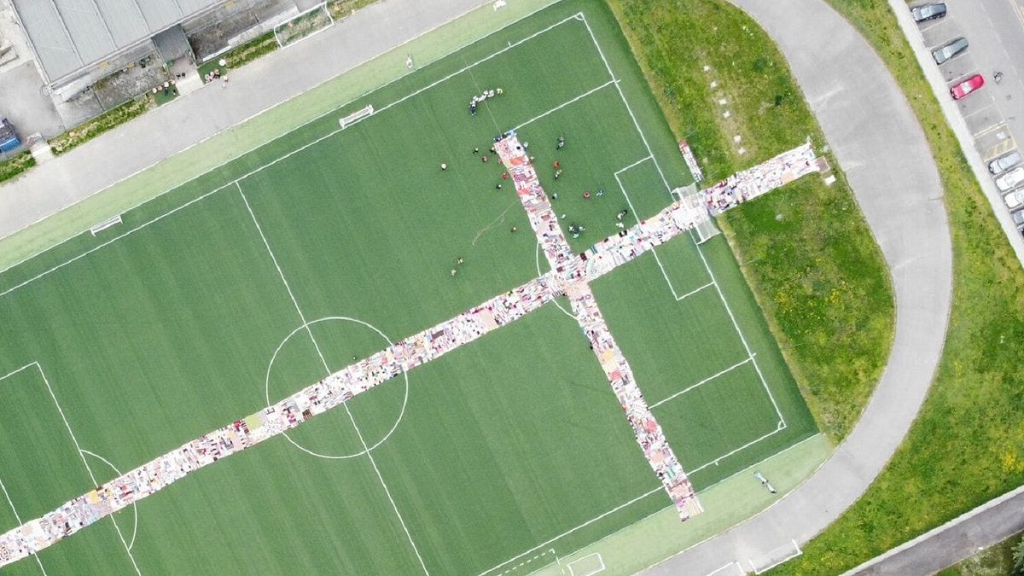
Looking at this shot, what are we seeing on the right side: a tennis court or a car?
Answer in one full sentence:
There is a car on the right side.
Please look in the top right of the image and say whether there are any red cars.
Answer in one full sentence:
Yes, a red car is visible in the top right of the image.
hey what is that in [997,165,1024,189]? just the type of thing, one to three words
car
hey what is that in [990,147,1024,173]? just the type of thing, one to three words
car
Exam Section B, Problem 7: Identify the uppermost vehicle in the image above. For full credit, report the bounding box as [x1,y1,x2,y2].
[914,0,952,23]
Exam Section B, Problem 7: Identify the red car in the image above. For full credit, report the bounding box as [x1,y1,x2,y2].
[952,71,988,96]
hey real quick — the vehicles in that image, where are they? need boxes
[993,70,1007,84]
[990,147,1024,173]
[1005,185,1024,206]
[935,36,971,61]
[952,71,988,96]
[997,165,1024,189]
[1014,207,1024,223]
[914,0,952,23]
